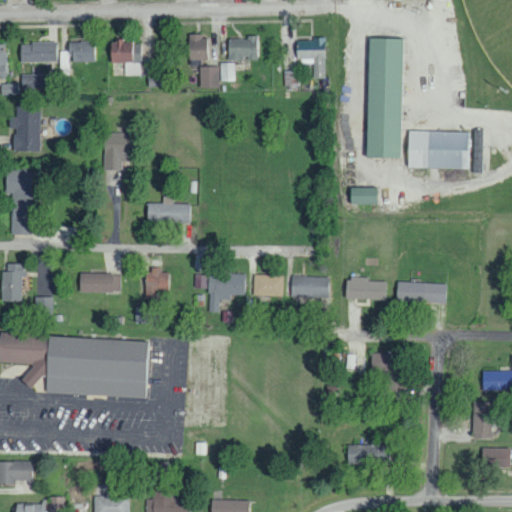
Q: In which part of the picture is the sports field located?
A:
top right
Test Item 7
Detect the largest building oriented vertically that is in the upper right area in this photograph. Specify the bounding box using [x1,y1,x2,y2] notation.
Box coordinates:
[367,38,403,158]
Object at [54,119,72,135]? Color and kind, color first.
blue swimming pool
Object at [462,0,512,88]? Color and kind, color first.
green sports field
